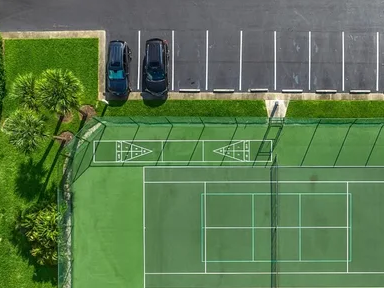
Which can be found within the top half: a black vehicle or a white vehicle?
black vehicle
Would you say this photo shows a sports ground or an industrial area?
sports ground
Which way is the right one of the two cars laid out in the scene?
up and down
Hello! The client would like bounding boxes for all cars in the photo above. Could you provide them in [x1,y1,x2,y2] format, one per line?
[105,42,132,96]
[141,40,169,99]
